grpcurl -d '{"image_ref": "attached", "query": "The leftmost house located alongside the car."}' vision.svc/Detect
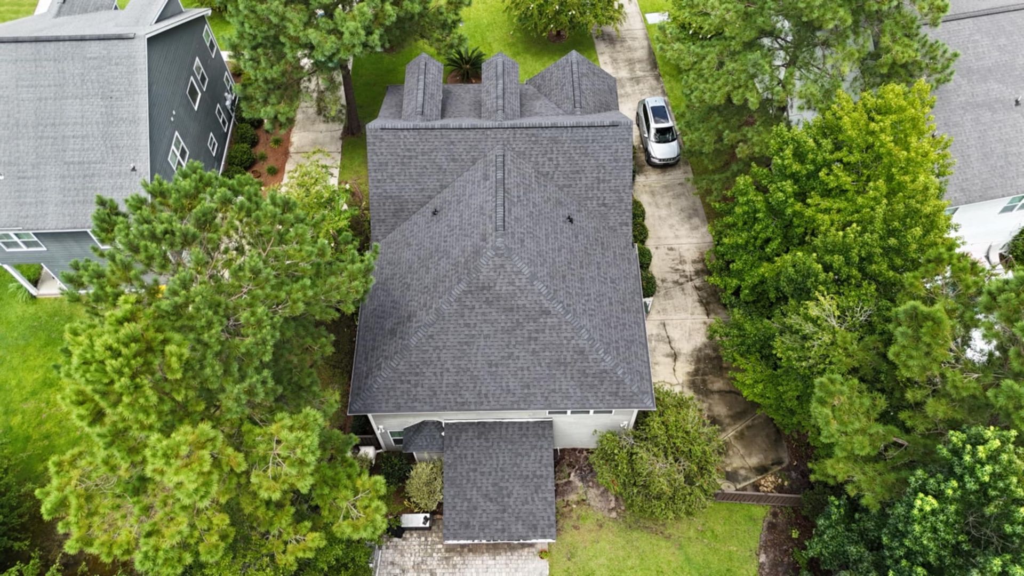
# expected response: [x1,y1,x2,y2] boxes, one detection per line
[348,48,657,546]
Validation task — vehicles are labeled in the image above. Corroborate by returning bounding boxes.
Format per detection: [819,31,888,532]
[638,96,687,168]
